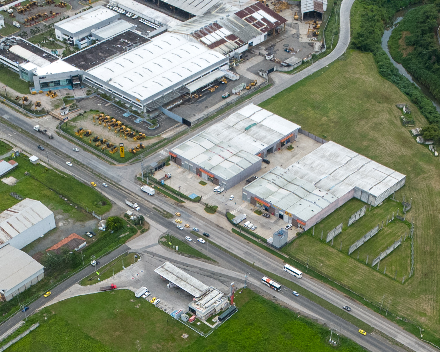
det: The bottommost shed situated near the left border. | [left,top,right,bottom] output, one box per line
[0,245,48,305]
